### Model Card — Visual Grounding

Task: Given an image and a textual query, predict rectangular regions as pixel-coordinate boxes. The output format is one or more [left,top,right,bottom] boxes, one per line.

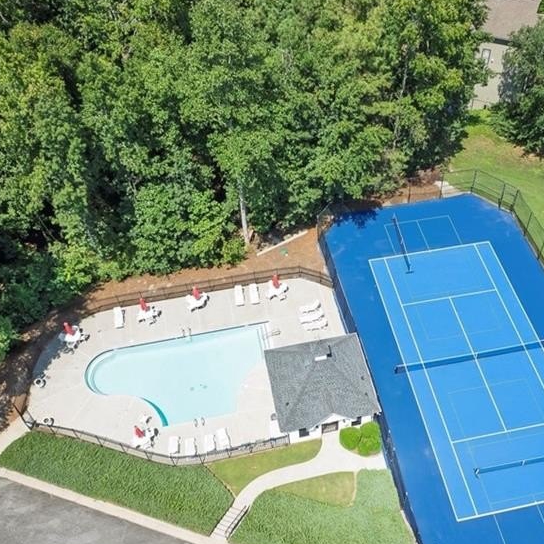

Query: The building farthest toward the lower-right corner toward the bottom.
[264,333,382,443]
